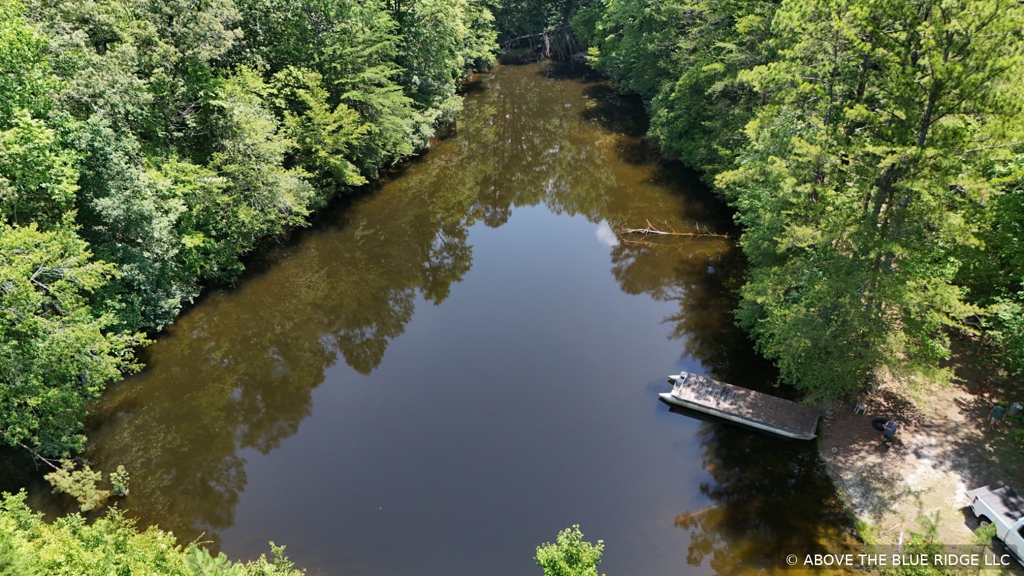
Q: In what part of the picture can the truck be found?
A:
bottom right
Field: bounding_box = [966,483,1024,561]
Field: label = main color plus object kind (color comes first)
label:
white truck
